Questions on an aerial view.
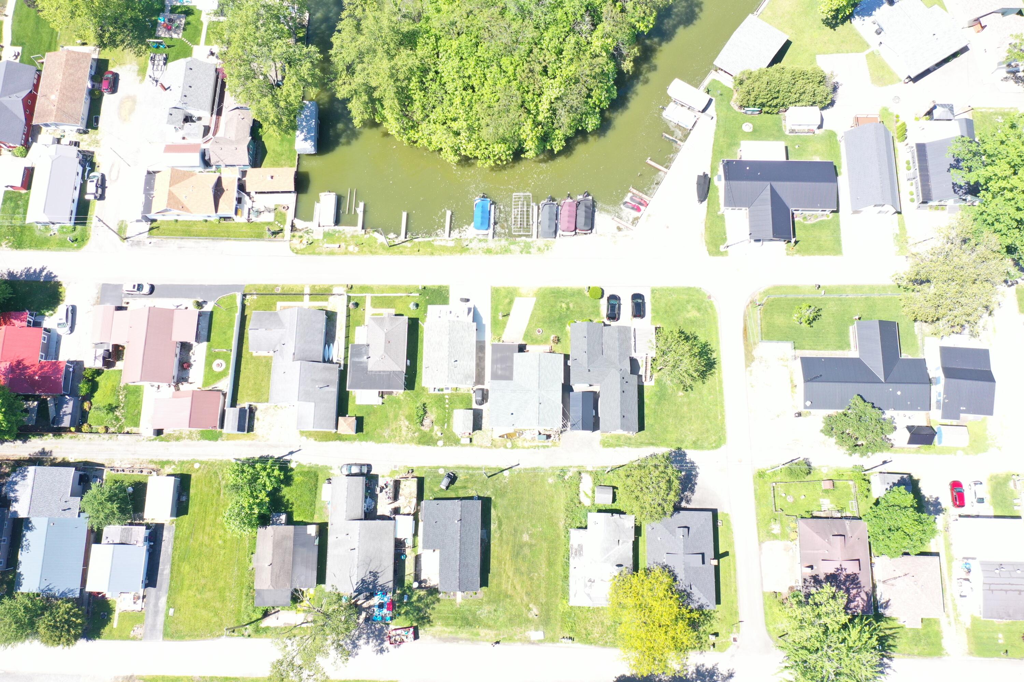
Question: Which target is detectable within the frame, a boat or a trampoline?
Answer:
boat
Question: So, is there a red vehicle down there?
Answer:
Yes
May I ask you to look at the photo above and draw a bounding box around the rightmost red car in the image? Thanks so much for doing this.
[948,479,966,510]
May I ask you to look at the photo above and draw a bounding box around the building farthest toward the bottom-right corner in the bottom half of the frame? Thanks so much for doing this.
[971,561,1024,621]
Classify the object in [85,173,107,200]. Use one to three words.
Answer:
car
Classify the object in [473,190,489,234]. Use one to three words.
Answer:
boat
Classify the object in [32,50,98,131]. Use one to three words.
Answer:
house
